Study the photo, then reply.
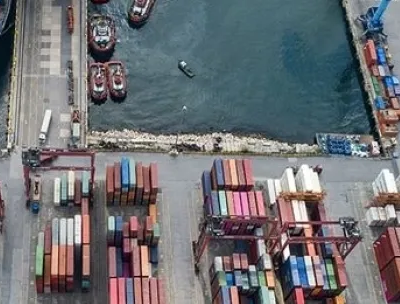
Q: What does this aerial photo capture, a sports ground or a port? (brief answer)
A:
port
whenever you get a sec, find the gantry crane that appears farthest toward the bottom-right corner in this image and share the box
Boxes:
[269,219,364,268]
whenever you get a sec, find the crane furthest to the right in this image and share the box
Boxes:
[354,0,393,45]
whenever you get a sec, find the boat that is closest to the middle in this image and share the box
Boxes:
[177,57,195,76]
